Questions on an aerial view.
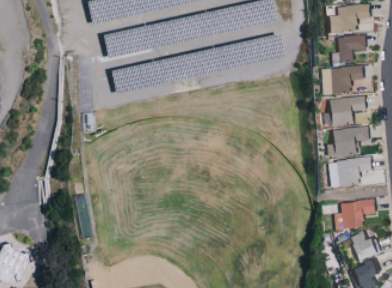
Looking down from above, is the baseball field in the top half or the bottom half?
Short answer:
bottom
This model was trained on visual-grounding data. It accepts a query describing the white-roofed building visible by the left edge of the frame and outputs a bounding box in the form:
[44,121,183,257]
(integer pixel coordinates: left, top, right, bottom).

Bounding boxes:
[0,243,30,283]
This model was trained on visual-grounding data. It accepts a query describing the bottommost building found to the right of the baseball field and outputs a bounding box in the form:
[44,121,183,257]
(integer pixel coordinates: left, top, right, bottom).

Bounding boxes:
[354,256,382,288]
